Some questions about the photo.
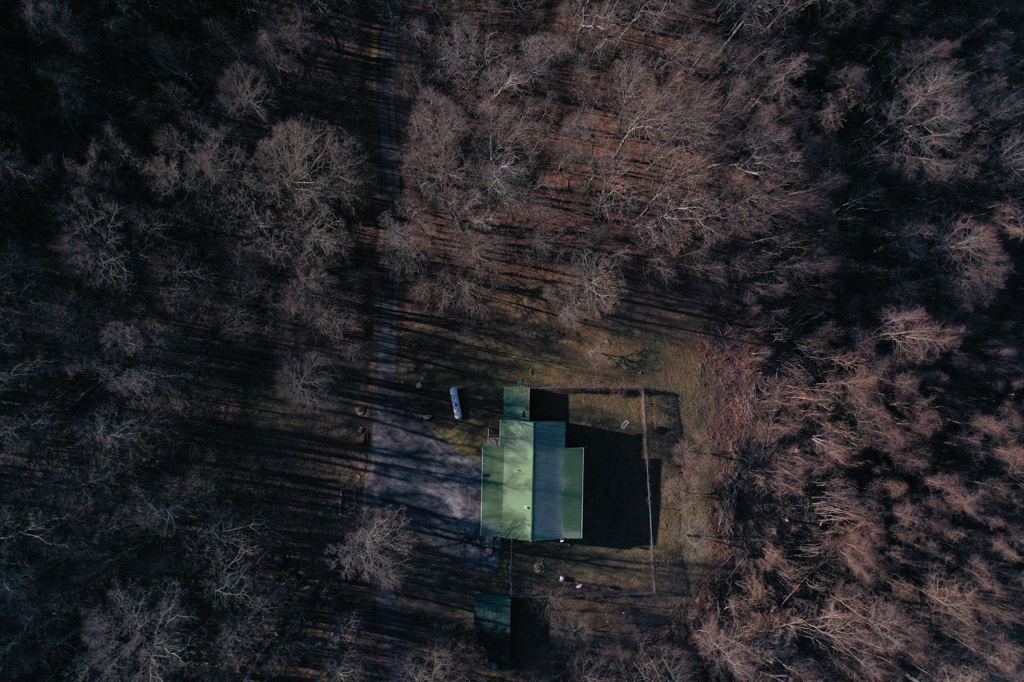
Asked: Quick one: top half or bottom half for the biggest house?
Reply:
bottom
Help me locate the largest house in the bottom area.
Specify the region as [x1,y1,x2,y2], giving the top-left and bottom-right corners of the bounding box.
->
[480,386,585,542]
